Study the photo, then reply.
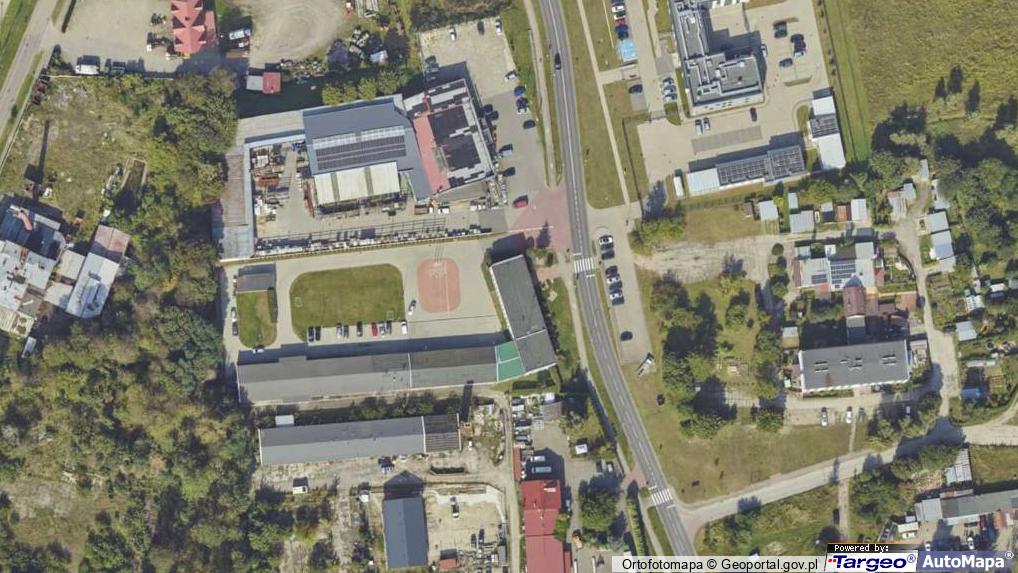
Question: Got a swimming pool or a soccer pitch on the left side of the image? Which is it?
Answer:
soccer pitch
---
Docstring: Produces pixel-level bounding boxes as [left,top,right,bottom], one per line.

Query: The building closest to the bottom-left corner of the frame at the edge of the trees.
[0,306,35,338]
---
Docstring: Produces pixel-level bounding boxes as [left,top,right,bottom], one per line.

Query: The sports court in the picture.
[418,256,461,313]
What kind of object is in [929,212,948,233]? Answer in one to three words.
building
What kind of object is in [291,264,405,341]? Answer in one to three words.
soccer field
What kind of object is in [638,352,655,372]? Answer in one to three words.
vehicle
